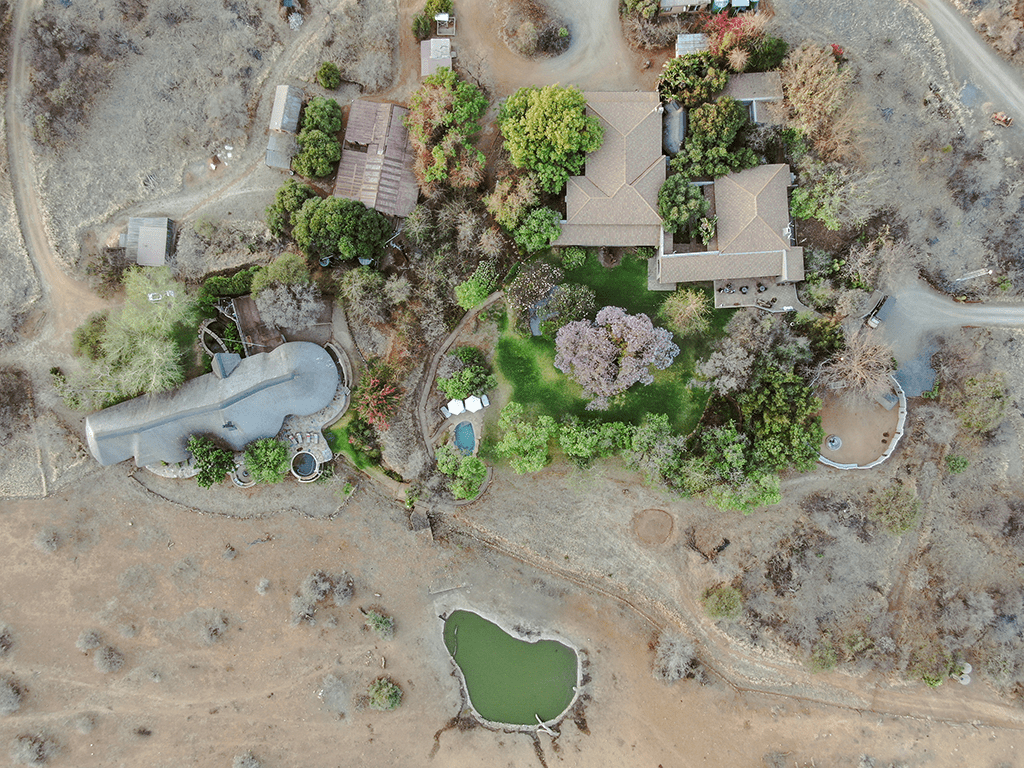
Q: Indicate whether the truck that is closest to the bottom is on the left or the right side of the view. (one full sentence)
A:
The truck that is closest to the bottom is on the right side of the image.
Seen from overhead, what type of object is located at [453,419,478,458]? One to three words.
swimming pool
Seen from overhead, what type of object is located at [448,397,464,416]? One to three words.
umbrella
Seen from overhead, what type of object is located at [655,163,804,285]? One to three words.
house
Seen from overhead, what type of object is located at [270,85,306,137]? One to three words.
shed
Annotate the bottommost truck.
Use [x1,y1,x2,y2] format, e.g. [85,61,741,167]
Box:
[865,294,897,330]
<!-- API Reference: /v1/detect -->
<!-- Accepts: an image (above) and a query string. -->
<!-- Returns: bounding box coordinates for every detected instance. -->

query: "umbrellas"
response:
[465,395,482,412]
[448,397,464,416]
